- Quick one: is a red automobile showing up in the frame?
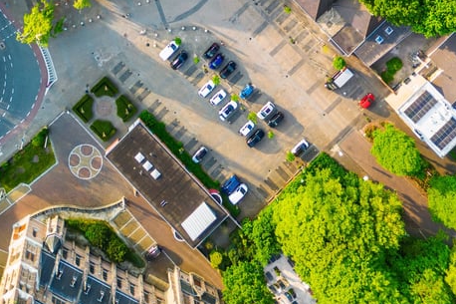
Yes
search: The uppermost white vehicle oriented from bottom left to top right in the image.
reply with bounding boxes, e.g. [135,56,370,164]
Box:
[159,40,180,62]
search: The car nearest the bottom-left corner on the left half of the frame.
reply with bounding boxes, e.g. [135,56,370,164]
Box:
[142,240,162,259]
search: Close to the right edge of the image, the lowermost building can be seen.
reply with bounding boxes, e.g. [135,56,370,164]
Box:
[378,68,456,158]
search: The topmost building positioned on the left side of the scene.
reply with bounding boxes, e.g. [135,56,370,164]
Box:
[105,110,230,249]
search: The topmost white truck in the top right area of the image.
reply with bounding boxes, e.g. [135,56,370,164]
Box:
[326,66,353,90]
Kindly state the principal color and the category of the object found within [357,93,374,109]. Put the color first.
red car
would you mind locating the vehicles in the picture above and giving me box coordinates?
[290,138,309,157]
[246,128,265,147]
[219,60,236,80]
[256,100,274,120]
[326,66,353,90]
[159,40,180,62]
[198,80,213,97]
[228,182,248,207]
[267,110,284,128]
[203,40,221,60]
[142,240,162,259]
[191,145,208,164]
[209,88,227,105]
[207,50,225,70]
[237,82,254,99]
[237,122,255,137]
[219,101,236,121]
[357,93,374,109]
[222,174,241,191]
[171,47,189,67]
